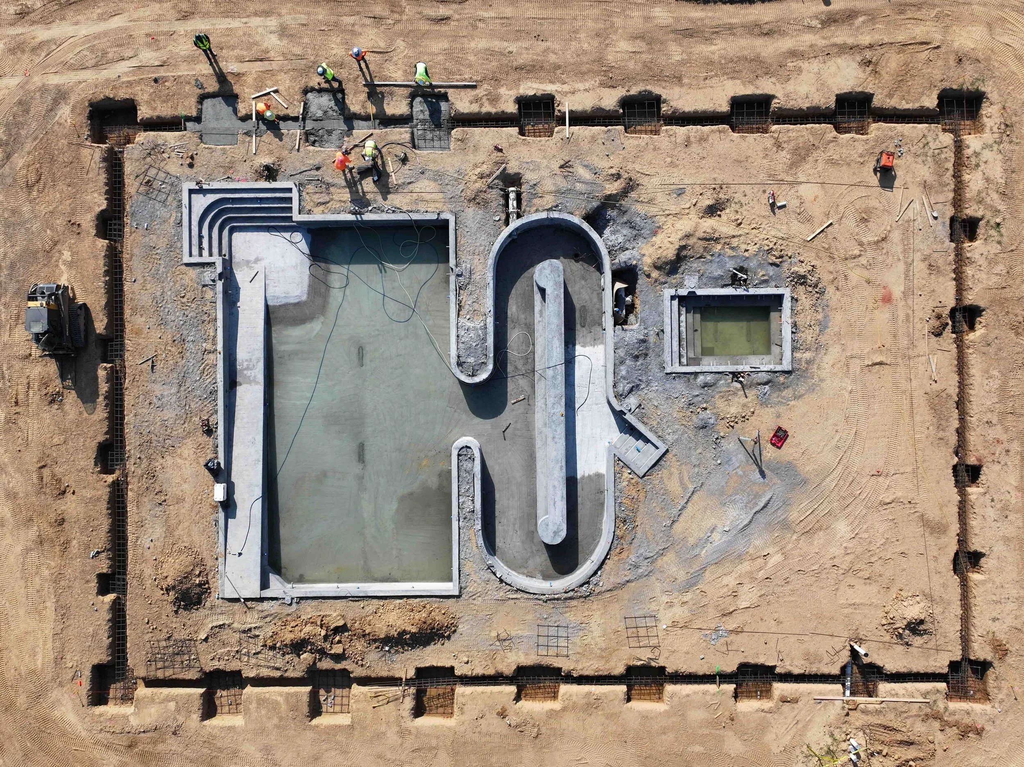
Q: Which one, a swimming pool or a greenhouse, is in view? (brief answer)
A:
swimming pool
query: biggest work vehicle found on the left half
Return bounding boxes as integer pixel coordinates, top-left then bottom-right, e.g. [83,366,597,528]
[21,283,92,358]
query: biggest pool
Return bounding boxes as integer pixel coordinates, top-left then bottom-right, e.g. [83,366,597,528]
[182,182,669,597]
